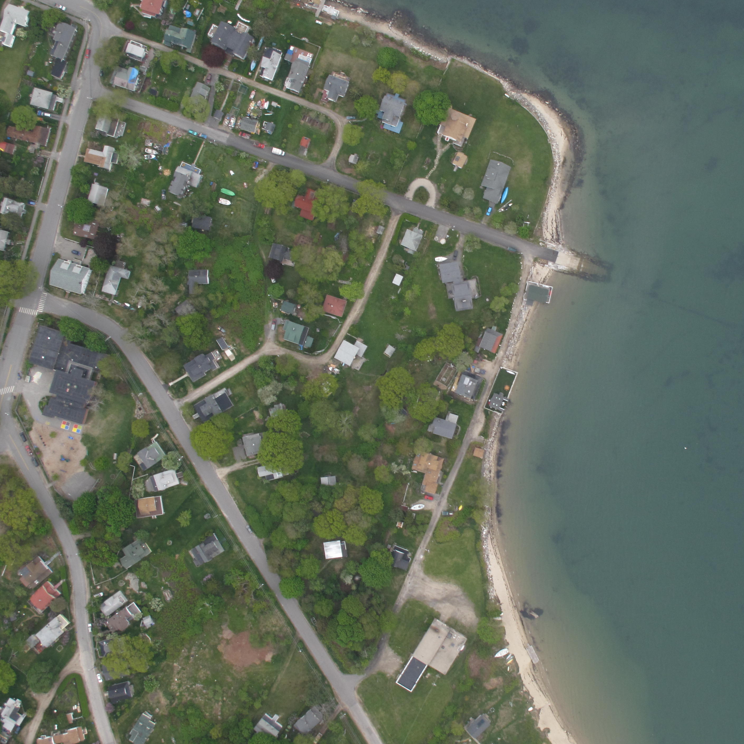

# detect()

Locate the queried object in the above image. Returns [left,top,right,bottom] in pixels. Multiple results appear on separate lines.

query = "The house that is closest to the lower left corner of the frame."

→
[0,695,26,742]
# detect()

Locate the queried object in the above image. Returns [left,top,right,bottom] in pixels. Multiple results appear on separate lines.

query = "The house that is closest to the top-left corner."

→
[0,5,34,49]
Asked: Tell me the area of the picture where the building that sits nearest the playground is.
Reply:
left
